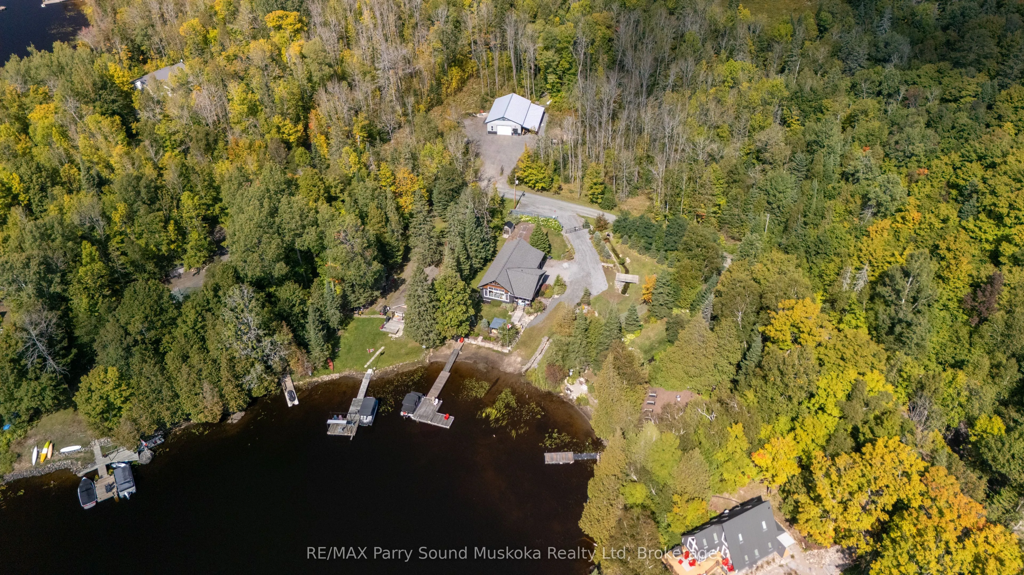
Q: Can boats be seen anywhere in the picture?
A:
Yes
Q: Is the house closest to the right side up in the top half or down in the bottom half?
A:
bottom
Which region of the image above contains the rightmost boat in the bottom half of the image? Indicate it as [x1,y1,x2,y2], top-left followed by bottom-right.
[400,390,425,424]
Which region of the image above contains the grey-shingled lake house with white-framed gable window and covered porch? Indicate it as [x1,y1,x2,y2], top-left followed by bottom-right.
[476,236,547,313]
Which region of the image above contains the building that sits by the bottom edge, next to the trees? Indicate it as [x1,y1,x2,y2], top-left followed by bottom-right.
[673,495,796,575]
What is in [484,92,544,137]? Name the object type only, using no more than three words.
building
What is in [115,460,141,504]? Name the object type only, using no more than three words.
boat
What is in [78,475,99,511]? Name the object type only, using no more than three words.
boat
